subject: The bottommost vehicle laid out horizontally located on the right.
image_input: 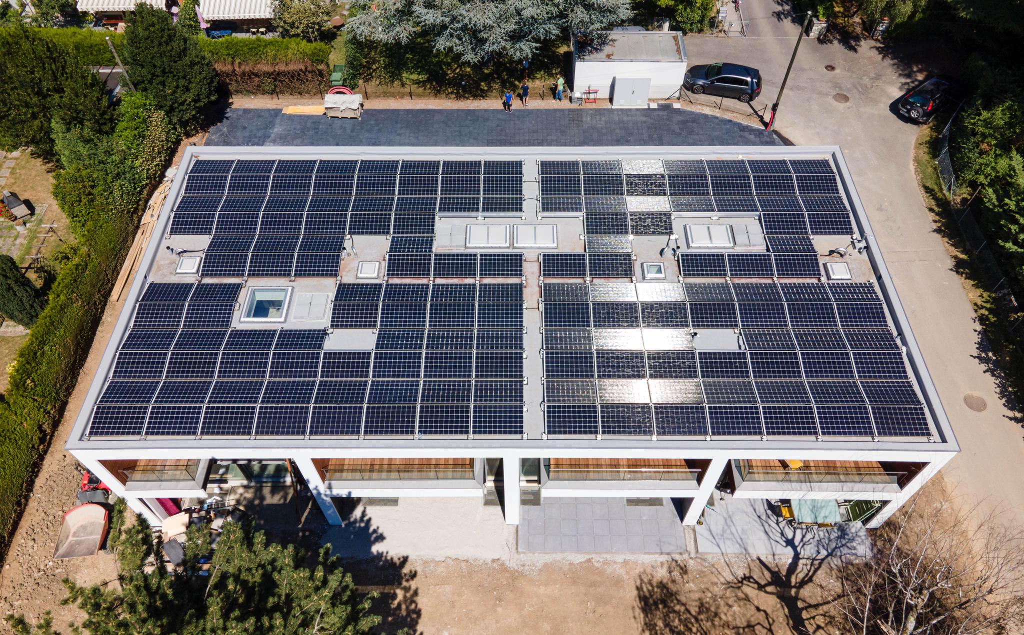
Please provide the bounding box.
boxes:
[686,61,767,102]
